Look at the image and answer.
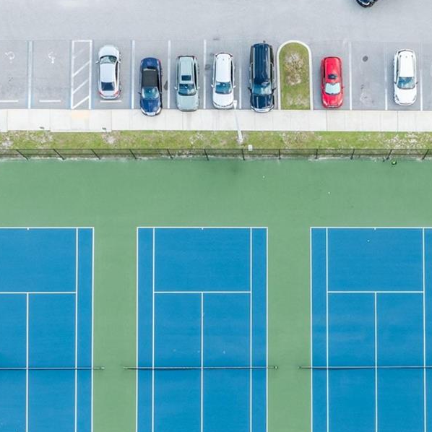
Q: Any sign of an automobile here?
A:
Yes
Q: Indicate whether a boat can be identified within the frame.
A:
No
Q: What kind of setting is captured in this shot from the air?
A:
sports ground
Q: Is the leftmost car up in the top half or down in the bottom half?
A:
top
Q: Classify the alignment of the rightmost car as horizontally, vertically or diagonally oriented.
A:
vertically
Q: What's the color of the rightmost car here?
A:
white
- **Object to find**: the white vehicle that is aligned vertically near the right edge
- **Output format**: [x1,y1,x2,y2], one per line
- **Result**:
[393,47,420,107]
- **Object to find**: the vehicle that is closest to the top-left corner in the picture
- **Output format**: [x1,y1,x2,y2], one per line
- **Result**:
[96,45,122,102]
